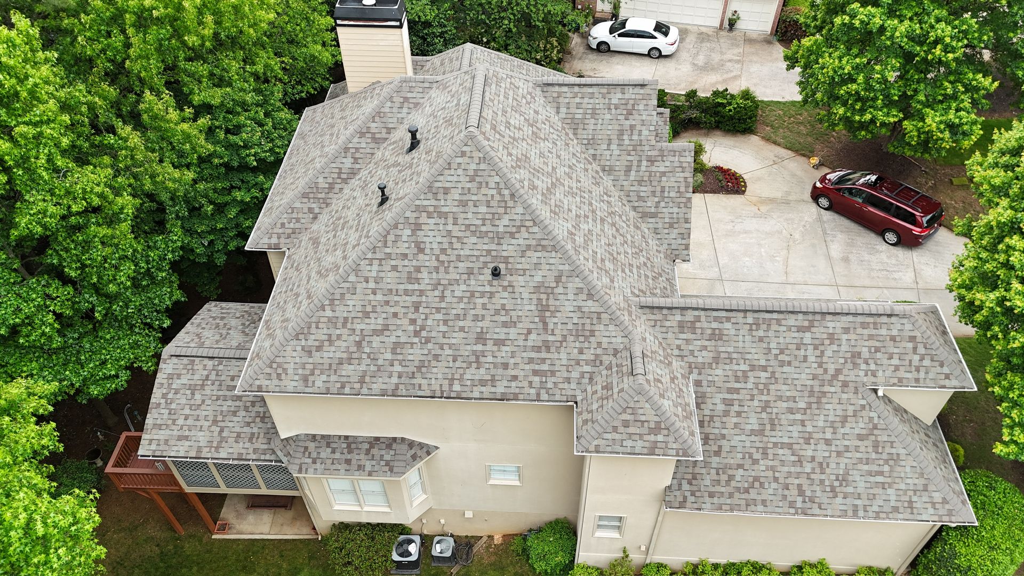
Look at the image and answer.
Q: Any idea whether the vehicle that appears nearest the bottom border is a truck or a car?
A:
car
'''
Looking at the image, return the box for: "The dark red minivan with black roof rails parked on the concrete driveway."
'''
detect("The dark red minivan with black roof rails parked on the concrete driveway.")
[810,170,944,251]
